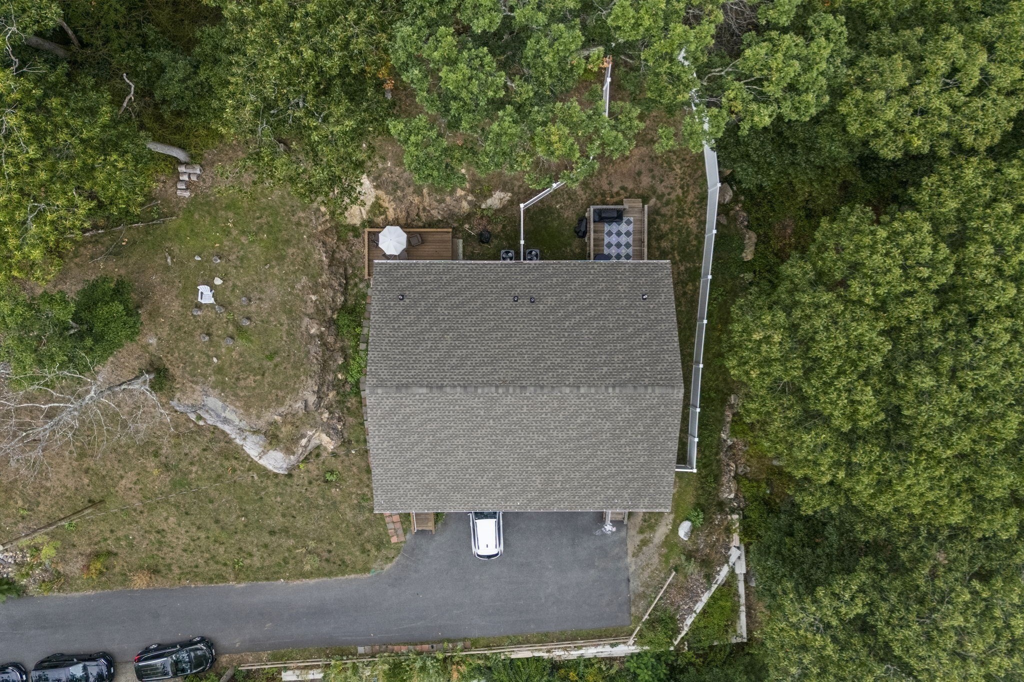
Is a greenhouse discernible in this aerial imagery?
No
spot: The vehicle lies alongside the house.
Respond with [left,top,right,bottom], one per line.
[470,514,504,560]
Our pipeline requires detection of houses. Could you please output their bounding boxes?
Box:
[365,259,683,515]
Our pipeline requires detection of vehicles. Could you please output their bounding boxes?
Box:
[30,650,118,682]
[0,664,30,682]
[132,636,216,682]
[470,514,504,560]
